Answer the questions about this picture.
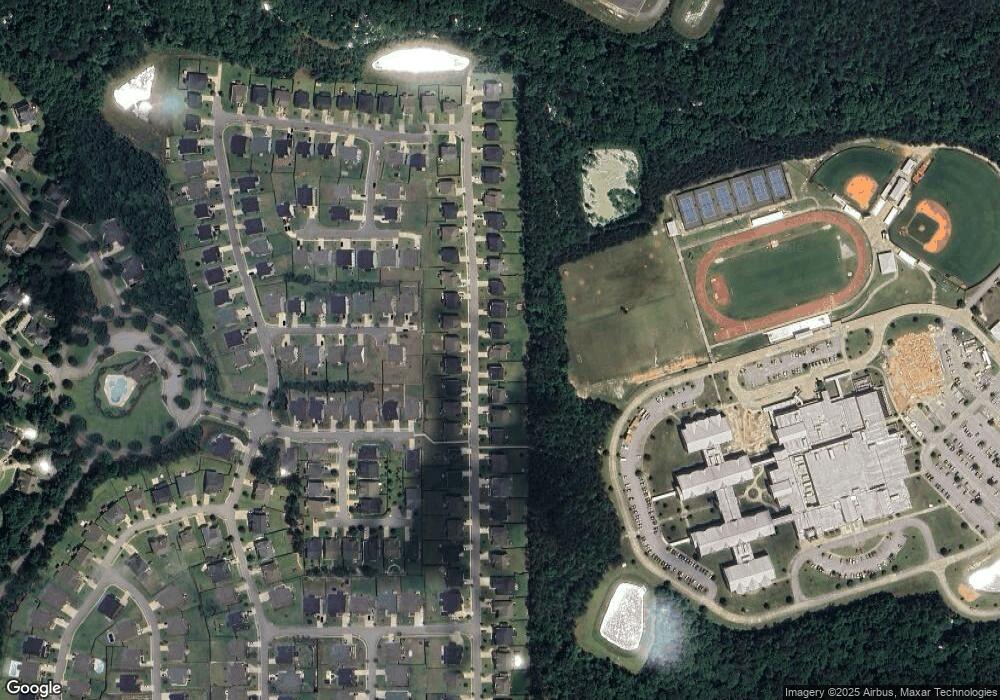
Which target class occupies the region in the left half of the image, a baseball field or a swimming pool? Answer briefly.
swimming pool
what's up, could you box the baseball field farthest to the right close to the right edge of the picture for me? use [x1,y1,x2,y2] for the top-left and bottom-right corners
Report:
[888,147,1000,288]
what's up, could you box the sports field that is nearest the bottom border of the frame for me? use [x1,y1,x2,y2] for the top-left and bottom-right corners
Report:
[705,219,857,313]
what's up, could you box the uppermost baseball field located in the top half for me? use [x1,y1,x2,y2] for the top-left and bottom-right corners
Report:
[810,147,902,211]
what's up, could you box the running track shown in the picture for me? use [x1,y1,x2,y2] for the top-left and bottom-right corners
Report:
[696,210,866,328]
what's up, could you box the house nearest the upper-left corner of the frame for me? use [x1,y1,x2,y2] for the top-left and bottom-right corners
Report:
[15,100,40,126]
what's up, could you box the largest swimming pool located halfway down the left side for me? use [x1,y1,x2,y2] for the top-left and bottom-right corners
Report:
[104,375,137,407]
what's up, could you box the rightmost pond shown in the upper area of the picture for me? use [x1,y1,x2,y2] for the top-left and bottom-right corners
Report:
[581,149,640,224]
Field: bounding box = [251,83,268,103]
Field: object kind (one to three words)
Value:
house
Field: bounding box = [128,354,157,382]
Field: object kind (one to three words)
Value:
building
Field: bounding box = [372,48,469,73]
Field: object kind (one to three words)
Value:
pond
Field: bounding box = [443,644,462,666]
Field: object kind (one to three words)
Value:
house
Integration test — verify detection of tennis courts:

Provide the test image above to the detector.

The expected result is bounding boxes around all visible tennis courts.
[698,191,716,218]
[716,185,733,213]
[680,197,697,224]
[752,176,770,202]
[733,181,751,207]
[770,170,787,196]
